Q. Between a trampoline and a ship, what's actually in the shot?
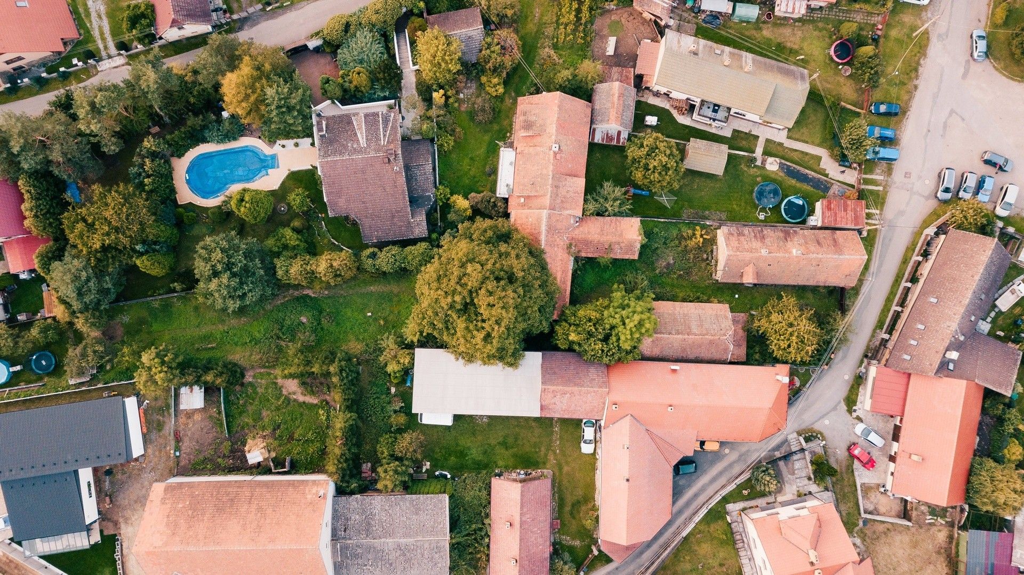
trampoline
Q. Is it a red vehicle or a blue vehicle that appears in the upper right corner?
blue vehicle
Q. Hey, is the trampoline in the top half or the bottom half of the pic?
top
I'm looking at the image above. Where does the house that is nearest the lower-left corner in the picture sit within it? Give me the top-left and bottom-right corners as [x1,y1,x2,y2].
[0,467,99,542]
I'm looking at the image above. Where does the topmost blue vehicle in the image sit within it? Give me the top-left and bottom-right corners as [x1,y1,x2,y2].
[868,100,900,117]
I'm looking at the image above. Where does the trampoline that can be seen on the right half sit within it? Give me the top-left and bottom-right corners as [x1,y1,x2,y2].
[827,38,859,62]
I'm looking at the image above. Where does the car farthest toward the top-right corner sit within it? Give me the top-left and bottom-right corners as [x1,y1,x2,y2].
[969,30,988,63]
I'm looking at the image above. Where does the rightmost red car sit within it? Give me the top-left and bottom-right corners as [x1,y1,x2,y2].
[845,443,876,470]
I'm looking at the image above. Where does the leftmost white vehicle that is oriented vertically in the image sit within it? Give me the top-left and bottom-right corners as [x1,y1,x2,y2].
[580,419,596,453]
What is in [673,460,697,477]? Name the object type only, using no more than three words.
car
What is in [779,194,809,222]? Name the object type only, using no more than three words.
swimming pool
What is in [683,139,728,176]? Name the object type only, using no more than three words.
shed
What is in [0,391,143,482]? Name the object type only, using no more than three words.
house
